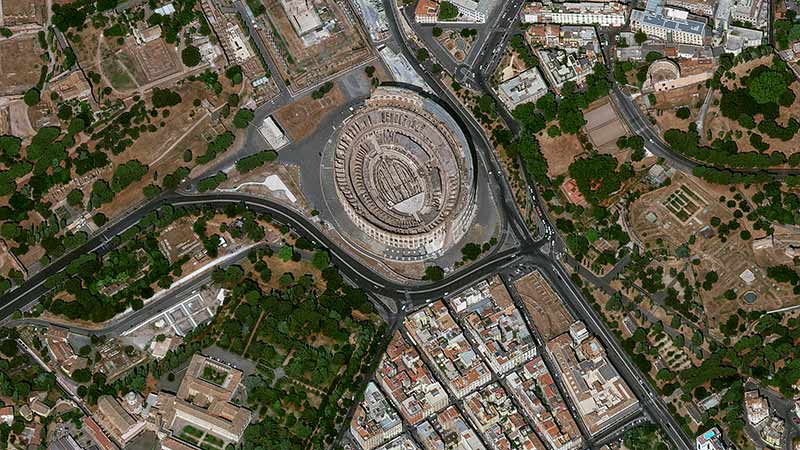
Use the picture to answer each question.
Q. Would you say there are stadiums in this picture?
Yes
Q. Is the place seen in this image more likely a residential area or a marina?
residential area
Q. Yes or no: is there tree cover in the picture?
Yes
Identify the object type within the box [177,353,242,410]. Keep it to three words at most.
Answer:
building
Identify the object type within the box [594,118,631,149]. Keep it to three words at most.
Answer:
sports court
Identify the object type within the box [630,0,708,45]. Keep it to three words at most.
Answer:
building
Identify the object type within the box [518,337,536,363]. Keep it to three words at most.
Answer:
house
